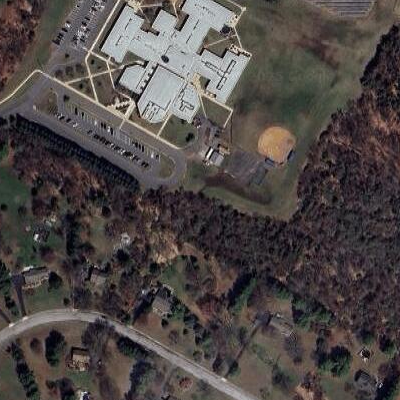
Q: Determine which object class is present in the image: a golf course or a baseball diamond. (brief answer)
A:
baseball diamond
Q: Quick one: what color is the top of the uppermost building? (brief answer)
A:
white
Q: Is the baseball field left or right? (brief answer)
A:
right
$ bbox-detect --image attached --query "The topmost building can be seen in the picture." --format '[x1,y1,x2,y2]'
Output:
[101,0,251,123]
